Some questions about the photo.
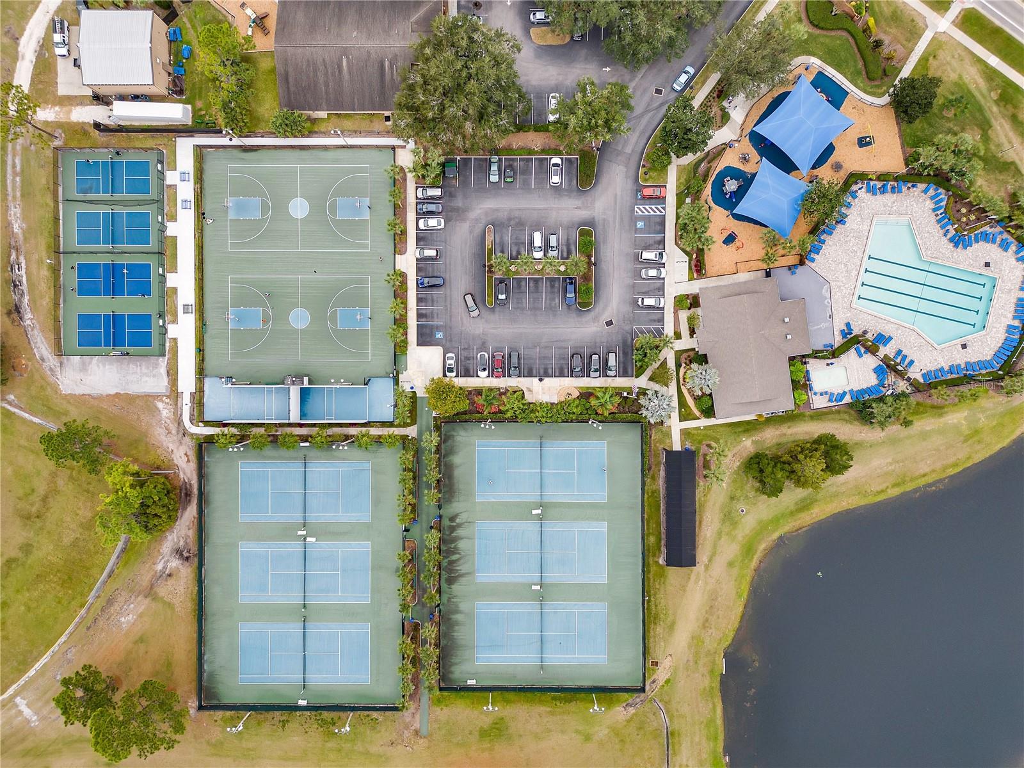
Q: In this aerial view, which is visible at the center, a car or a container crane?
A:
car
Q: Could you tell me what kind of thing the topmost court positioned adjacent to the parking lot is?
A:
basketball court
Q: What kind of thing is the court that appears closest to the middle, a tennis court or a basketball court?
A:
tennis court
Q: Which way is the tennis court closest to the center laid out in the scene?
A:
from side to side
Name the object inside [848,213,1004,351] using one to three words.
swimming pool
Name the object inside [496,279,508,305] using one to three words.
vehicle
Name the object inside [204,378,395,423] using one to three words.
sports court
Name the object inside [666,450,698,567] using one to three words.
building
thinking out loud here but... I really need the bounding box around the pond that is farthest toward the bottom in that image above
[720,436,1024,768]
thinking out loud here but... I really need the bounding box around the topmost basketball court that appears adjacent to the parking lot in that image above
[228,165,369,250]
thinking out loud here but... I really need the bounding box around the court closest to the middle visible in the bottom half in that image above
[476,440,606,501]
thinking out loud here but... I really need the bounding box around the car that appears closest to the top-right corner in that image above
[674,63,695,90]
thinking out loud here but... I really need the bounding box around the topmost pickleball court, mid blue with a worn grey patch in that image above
[76,160,150,195]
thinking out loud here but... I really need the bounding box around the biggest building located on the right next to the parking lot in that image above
[693,276,812,418]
